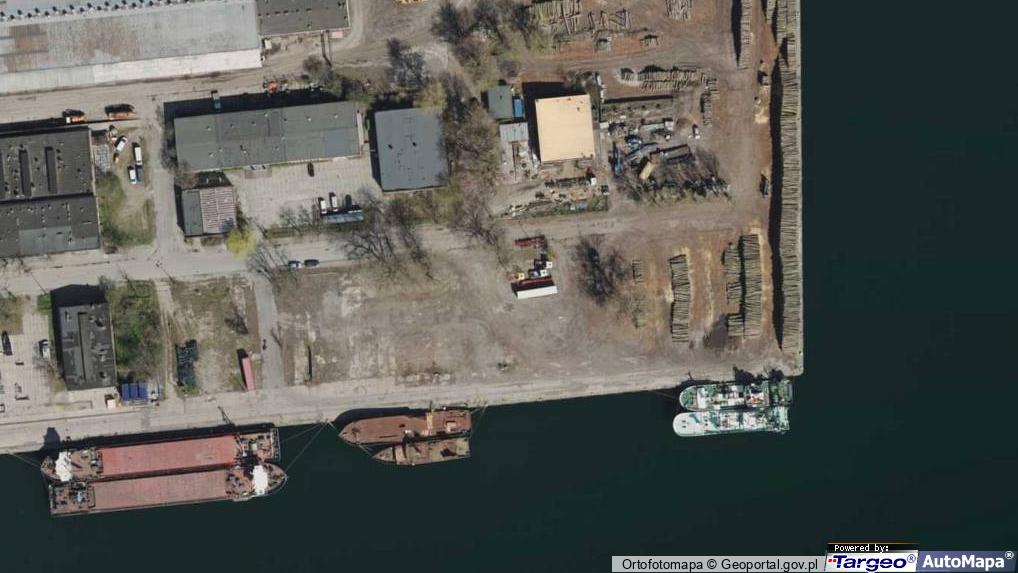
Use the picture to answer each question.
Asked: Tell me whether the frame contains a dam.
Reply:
No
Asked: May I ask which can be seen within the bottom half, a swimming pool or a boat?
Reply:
boat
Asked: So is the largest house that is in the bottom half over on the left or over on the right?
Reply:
left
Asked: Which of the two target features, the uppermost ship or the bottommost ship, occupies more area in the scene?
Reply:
the bottommost ship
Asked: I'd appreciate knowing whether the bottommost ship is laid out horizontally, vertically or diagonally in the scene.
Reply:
horizontally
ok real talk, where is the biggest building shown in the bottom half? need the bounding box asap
[60,302,119,391]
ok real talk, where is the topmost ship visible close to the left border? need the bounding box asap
[42,429,280,482]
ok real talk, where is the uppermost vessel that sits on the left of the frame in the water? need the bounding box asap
[339,409,472,445]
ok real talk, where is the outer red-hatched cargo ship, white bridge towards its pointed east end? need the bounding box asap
[50,463,287,516]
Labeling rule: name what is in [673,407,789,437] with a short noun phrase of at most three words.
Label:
ship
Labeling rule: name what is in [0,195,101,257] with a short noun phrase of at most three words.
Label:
building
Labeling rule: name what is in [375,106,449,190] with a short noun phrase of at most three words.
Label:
shed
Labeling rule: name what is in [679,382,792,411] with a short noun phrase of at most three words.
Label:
ship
